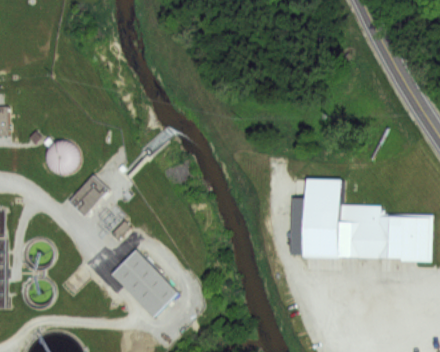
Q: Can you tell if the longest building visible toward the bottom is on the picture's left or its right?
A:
right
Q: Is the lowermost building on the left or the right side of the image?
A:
left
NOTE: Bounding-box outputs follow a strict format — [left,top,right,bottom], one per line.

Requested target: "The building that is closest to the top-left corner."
[0,106,15,138]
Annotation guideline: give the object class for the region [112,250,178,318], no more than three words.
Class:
building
